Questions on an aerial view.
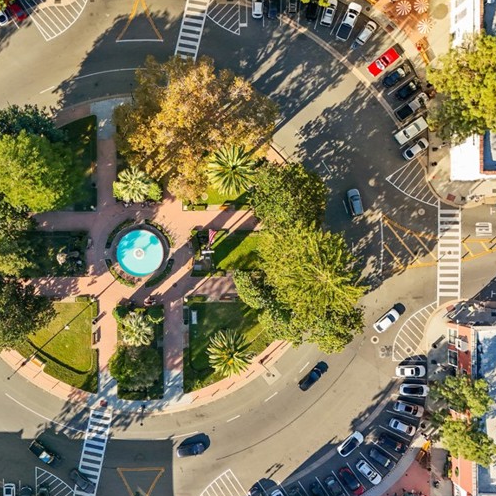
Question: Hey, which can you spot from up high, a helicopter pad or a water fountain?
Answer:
water fountain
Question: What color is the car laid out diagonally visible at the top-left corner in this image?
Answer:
red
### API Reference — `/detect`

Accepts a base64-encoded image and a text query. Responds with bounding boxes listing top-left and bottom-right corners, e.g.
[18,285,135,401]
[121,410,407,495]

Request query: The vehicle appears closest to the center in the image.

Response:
[347,188,363,216]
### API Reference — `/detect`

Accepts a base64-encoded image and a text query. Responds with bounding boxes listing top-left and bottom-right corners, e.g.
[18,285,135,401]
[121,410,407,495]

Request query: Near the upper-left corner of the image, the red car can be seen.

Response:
[4,0,30,24]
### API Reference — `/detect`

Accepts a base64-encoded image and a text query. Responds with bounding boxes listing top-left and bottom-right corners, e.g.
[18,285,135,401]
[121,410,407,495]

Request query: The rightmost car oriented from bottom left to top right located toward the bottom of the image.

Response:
[371,308,400,333]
